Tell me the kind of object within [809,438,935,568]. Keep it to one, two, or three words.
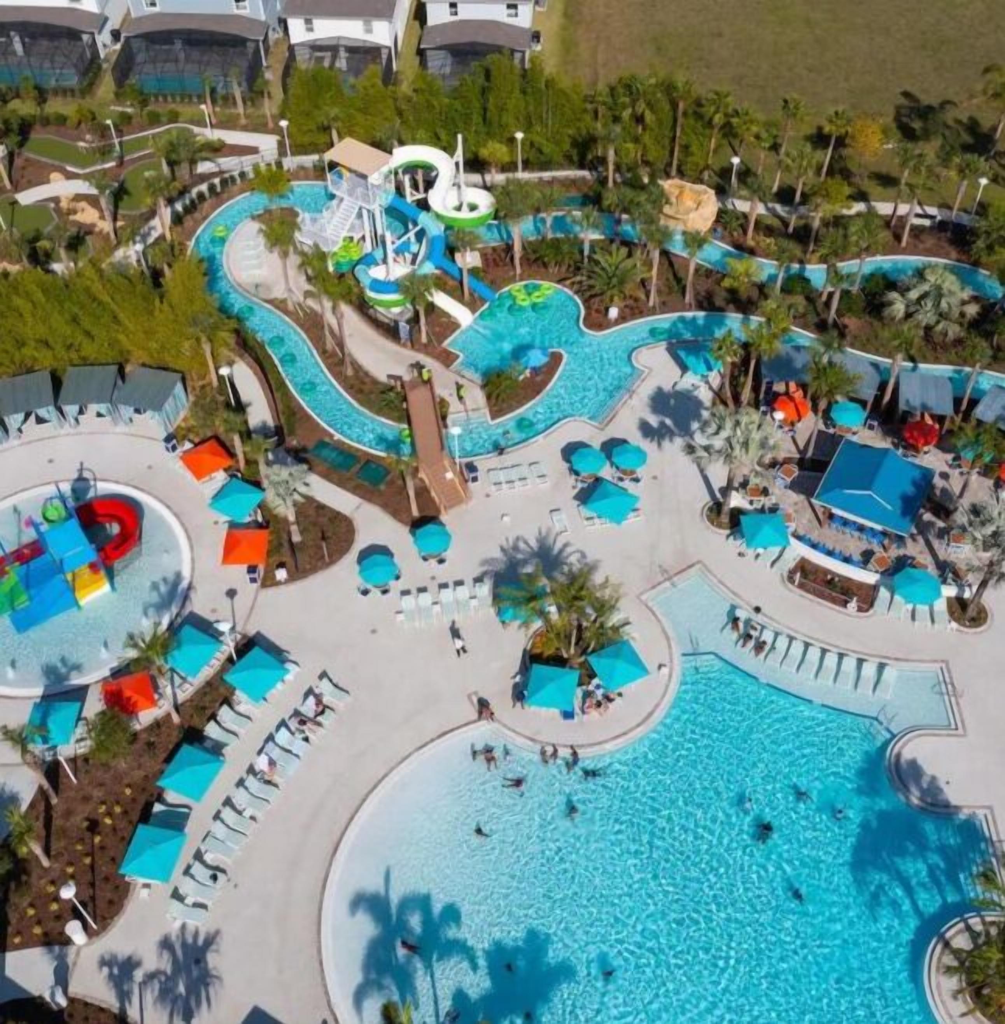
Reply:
shed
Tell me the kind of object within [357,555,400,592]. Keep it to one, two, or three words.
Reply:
umbrella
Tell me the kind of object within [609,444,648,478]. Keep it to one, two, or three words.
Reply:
umbrella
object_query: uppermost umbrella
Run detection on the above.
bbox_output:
[522,352,552,392]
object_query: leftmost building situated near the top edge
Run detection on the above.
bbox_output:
[0,0,137,91]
